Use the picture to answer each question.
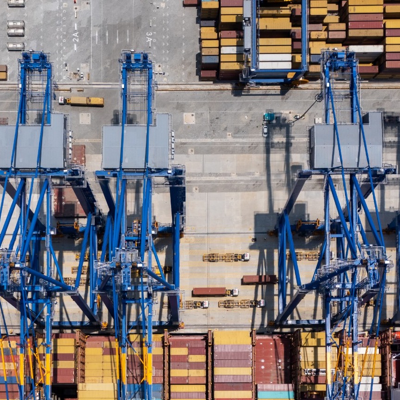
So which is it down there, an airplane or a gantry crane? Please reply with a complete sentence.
It is a gantry crane that can be seen here.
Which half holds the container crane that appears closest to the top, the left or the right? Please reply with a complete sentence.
The container crane that appears closest to the top appears in the right half of the scene.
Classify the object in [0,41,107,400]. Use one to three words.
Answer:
container crane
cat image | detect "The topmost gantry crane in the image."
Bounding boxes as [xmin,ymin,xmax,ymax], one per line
[241,0,319,94]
